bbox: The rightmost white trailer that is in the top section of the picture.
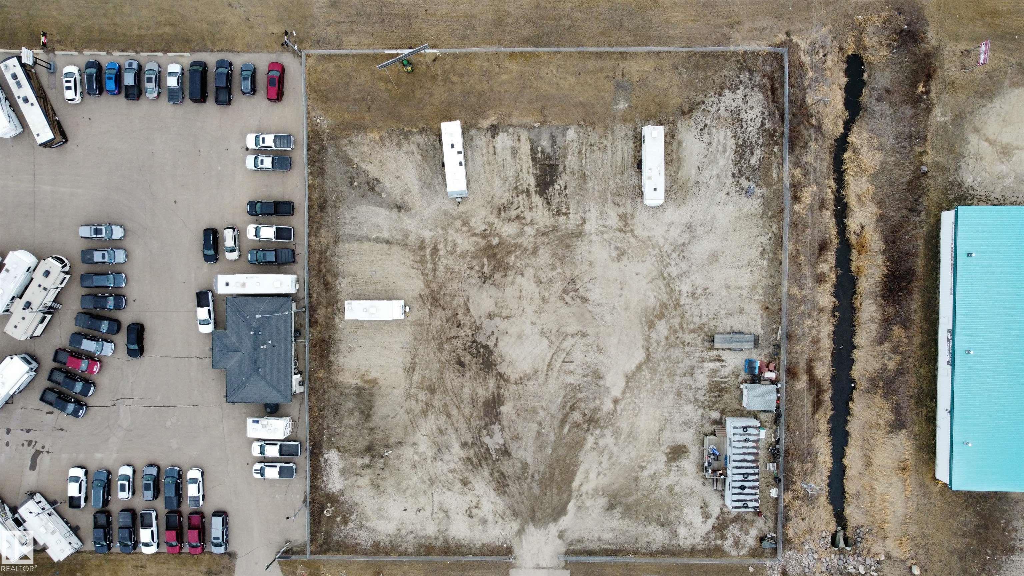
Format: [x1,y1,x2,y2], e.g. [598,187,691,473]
[634,125,664,210]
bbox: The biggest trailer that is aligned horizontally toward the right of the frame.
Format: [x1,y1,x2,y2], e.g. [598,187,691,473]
[702,332,758,351]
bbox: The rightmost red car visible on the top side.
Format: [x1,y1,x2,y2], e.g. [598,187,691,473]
[266,61,285,104]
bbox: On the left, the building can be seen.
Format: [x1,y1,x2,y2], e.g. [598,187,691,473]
[212,296,293,404]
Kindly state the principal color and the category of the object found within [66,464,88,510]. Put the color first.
white truck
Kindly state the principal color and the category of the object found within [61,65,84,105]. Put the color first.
white car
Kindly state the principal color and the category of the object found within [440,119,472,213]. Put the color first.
white trailer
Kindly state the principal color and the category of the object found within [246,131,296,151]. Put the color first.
white vehicle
